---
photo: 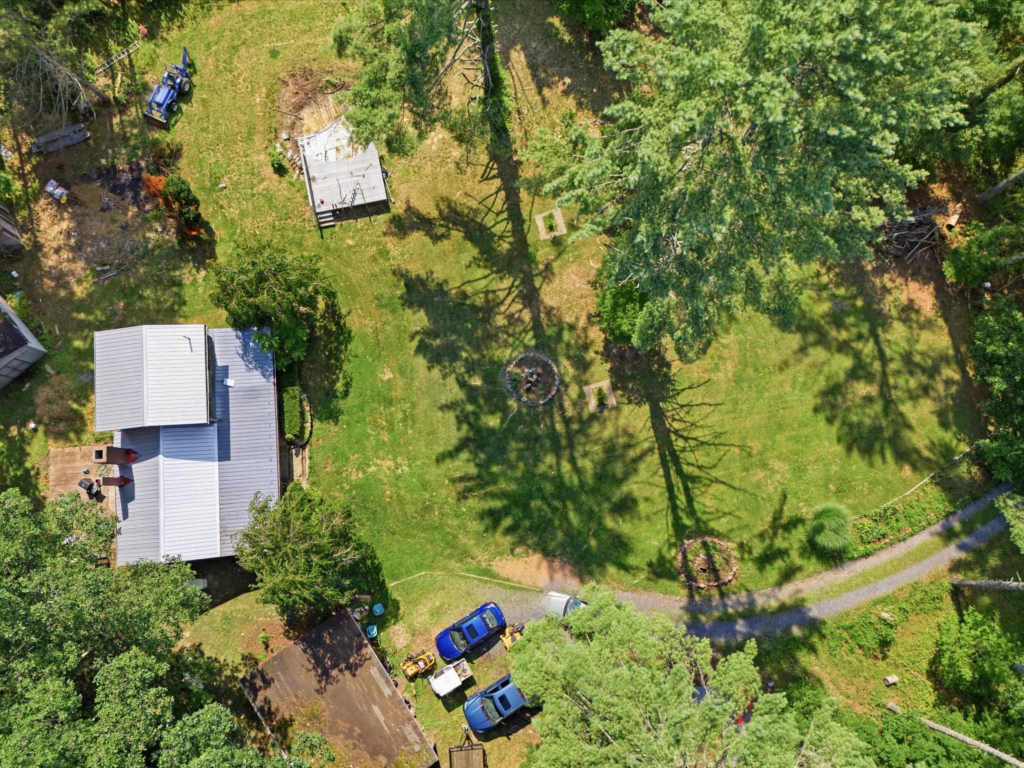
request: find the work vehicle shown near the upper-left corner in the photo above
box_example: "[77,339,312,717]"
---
[138,49,200,135]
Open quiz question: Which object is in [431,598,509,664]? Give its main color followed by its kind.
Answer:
blue car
